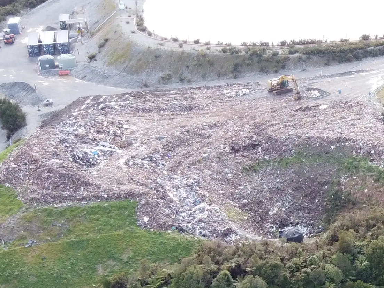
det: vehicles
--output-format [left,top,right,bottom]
[266,68,304,94]
[0,25,16,45]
